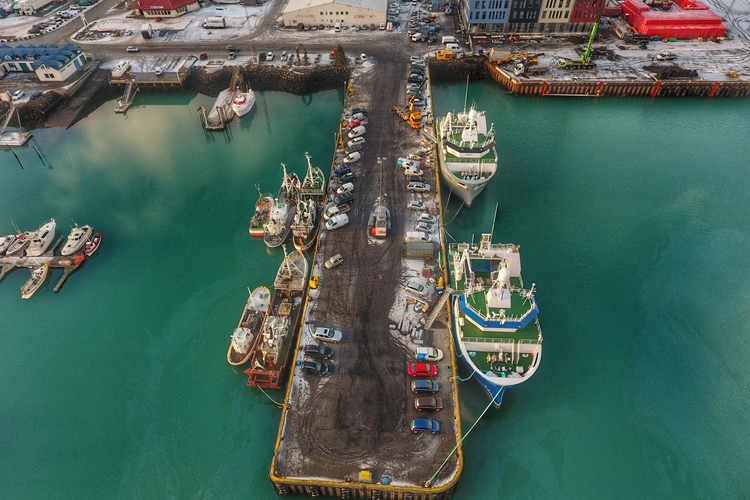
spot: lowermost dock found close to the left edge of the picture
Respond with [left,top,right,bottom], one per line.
[0,236,87,293]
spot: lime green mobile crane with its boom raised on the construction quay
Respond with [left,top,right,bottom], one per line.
[557,0,605,70]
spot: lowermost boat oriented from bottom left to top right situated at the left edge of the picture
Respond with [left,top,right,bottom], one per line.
[18,262,51,301]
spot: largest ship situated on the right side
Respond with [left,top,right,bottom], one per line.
[448,207,543,406]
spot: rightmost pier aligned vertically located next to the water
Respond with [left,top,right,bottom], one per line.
[268,62,465,500]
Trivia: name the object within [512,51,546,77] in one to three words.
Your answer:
truck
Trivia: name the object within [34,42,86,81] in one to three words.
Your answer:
shed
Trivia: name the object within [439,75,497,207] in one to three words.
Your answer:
ship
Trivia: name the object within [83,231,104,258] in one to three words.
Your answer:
boat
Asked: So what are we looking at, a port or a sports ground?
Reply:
port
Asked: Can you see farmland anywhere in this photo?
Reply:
No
